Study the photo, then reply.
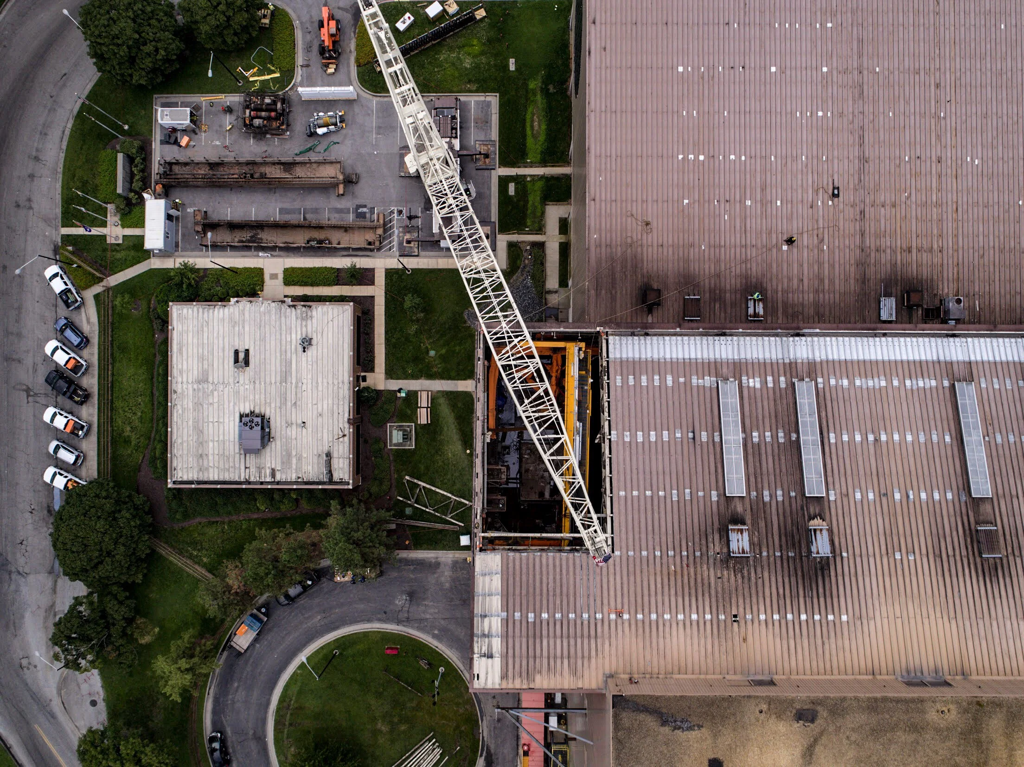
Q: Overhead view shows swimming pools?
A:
No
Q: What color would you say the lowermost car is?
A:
black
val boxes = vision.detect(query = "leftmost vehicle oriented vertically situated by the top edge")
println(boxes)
[317,6,342,73]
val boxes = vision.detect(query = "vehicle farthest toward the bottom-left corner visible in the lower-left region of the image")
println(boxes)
[206,729,232,767]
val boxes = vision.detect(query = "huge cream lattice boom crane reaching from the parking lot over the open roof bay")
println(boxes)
[356,0,612,563]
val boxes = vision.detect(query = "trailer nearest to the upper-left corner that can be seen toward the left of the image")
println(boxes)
[156,107,208,130]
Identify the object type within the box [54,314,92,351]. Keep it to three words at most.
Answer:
car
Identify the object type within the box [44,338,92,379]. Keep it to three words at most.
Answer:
truck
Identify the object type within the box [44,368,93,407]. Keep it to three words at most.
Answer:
truck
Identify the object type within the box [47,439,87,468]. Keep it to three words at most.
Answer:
car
